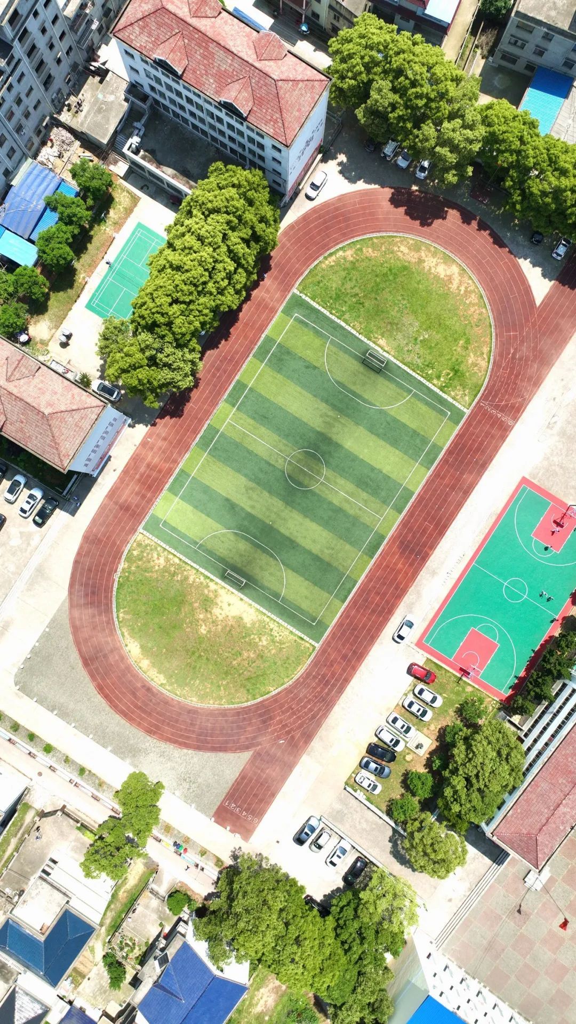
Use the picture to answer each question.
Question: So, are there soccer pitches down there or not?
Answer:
Yes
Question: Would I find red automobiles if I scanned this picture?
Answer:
Yes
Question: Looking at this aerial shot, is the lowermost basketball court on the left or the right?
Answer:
right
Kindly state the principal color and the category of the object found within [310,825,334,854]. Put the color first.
white car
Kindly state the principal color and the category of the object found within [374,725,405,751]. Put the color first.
white car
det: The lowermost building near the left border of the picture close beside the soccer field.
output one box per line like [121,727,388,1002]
[0,336,130,476]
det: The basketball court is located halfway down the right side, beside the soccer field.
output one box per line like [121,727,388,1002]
[415,476,576,704]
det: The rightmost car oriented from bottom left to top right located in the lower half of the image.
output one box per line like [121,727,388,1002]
[391,613,416,645]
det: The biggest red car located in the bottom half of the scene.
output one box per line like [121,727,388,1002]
[405,661,437,685]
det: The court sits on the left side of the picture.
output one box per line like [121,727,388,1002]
[86,224,165,328]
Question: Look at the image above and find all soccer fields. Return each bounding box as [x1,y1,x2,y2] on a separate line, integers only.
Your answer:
[141,292,470,646]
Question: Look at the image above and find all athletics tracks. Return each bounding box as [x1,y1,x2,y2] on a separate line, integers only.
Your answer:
[68,186,576,842]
